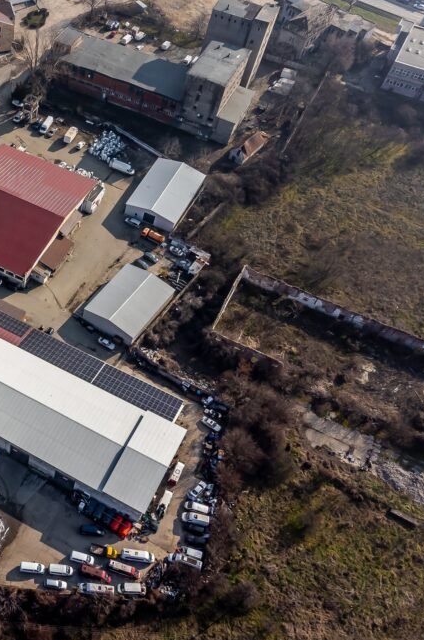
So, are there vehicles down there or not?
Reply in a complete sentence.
Yes, a vehicle can be made out from above.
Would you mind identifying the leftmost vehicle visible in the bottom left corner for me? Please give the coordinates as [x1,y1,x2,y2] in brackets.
[20,561,44,577]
